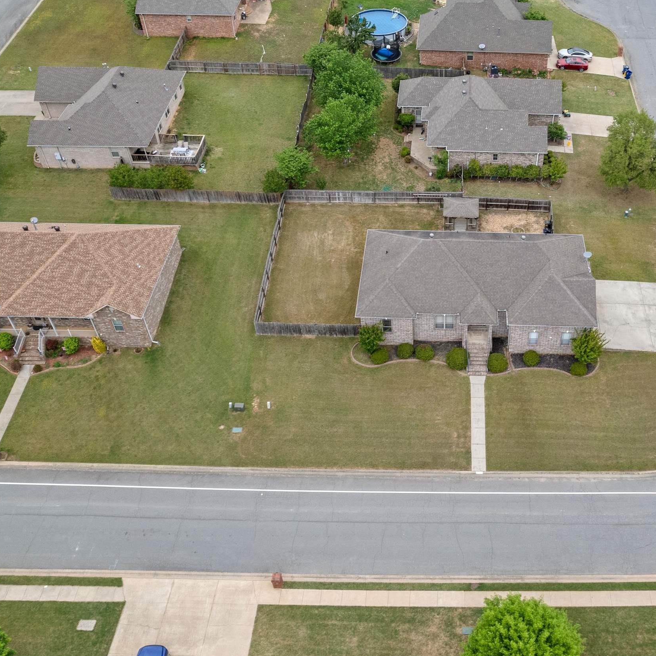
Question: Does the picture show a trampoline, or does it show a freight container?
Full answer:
I can see a trampoline in this picture.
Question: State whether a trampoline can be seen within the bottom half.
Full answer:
No, no trampoline is visible within the bottom half.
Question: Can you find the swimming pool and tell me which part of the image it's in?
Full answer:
You can find the swimming pool in the top area of the picture.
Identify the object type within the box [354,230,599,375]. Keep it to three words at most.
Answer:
house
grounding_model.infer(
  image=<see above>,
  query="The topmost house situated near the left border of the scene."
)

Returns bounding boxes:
[26,65,191,169]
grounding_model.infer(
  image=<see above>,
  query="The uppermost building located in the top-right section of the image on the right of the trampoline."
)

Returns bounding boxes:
[417,0,553,71]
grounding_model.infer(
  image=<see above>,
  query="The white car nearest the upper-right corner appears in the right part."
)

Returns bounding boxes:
[558,47,593,62]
